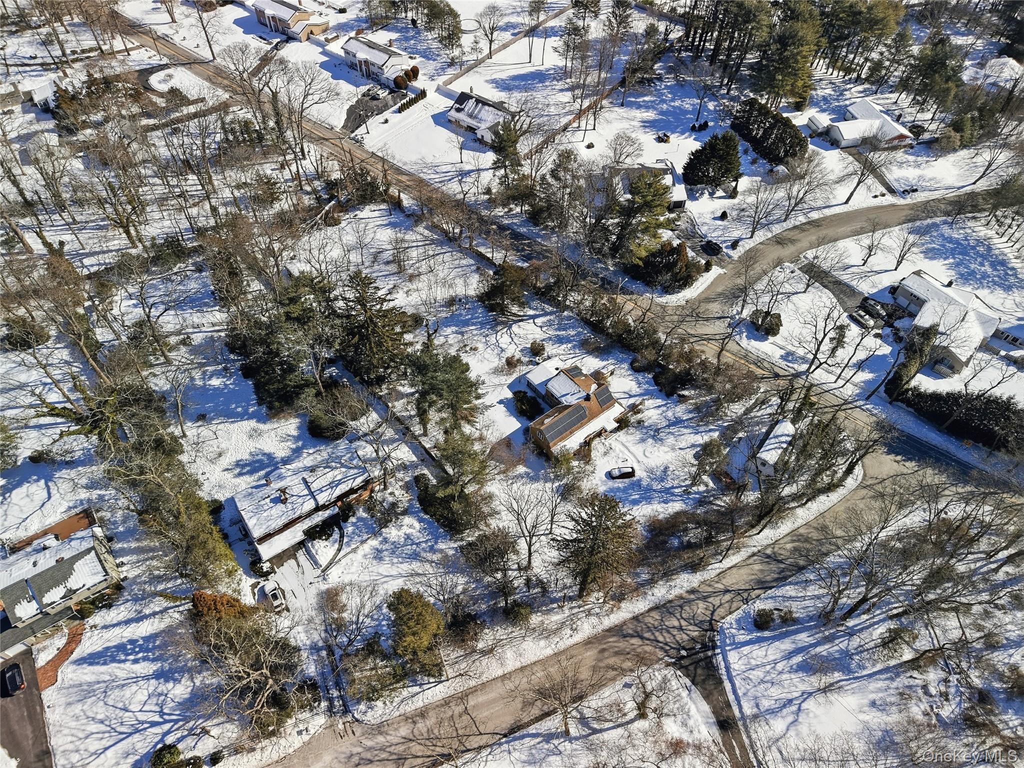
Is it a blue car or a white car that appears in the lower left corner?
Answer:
white car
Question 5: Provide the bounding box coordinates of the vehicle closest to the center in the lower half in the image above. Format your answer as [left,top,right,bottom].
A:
[609,466,637,480]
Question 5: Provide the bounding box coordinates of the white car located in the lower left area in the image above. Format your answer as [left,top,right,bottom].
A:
[264,581,285,612]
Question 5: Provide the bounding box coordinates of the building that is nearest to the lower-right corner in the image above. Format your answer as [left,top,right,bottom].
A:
[743,419,794,477]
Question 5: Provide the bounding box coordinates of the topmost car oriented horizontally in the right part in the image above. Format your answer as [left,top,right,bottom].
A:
[701,240,723,252]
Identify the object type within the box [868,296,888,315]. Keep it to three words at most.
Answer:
car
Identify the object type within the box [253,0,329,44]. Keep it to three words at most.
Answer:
house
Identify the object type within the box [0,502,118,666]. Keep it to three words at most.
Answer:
house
